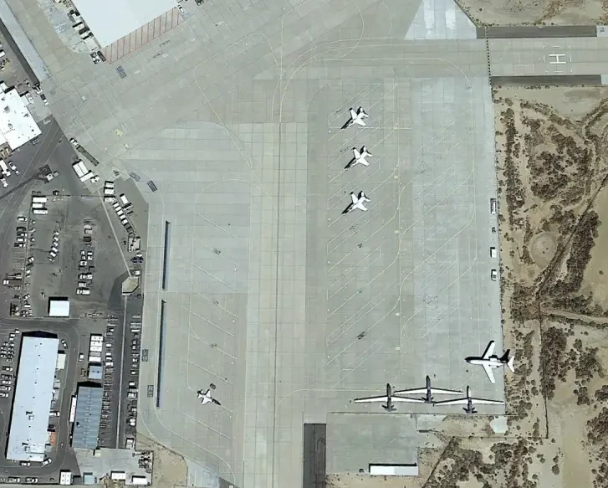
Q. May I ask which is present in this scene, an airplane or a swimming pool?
airplane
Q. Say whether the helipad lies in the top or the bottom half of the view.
top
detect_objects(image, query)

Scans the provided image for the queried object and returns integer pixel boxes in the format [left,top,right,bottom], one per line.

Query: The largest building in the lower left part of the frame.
[5,336,59,463]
